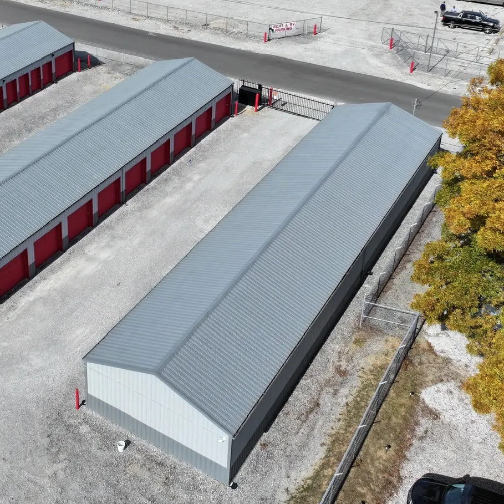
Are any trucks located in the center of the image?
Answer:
No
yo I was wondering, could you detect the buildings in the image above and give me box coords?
[0,57,235,308]
[81,102,442,484]
[0,20,77,115]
